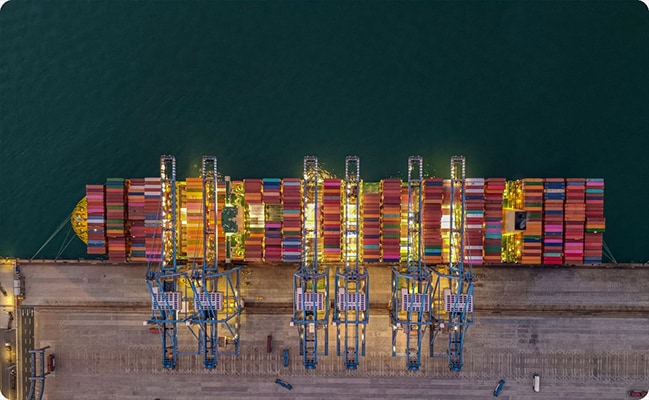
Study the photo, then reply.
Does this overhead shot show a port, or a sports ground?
port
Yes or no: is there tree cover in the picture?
No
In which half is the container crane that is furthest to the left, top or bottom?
bottom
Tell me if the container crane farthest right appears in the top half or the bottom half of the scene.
bottom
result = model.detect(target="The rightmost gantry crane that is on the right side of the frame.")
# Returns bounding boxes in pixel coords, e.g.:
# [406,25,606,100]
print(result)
[423,154,480,374]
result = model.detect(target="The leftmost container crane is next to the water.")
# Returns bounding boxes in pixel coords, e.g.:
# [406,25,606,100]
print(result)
[143,153,207,372]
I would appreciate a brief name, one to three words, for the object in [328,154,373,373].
container crane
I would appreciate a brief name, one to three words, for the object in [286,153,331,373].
container crane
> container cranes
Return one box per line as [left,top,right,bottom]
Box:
[143,153,207,372]
[423,154,480,374]
[383,154,436,373]
[286,153,331,373]
[328,154,373,373]
[184,153,245,373]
